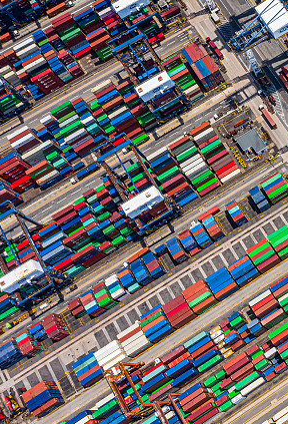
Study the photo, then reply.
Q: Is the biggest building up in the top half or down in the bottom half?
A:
top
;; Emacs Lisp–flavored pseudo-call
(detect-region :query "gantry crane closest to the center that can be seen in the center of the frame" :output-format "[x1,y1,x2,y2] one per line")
[90,129,192,245]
